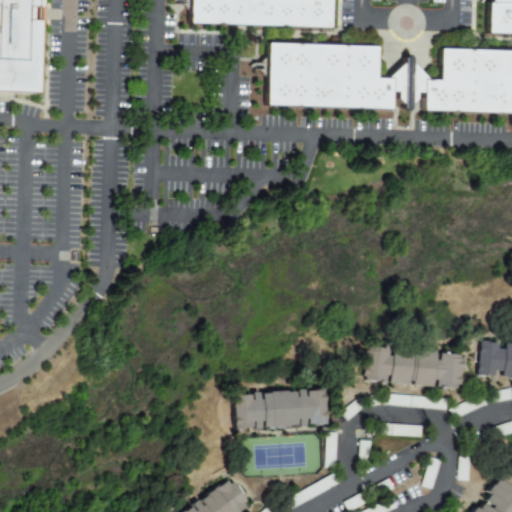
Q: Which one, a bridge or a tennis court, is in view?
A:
tennis court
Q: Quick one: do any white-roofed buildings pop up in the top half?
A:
Yes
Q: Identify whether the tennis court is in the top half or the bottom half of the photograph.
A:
bottom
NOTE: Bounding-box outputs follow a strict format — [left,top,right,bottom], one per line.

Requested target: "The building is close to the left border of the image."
[0,0,46,92]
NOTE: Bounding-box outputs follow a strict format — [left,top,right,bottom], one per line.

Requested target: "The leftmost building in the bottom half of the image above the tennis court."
[235,388,330,432]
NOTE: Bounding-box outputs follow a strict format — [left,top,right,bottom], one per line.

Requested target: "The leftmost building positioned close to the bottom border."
[183,478,254,512]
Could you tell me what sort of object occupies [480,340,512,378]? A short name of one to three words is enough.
building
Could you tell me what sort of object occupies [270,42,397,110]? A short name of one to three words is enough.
building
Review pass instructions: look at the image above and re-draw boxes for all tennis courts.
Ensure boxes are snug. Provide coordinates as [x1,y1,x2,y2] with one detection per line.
[243,434,322,478]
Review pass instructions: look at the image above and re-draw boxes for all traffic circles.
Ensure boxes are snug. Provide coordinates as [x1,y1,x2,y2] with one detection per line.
[388,4,426,42]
